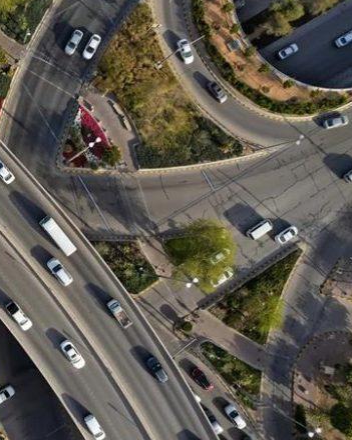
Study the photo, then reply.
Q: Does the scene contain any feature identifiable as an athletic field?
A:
No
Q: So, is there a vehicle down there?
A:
Yes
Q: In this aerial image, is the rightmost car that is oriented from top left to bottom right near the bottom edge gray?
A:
Yes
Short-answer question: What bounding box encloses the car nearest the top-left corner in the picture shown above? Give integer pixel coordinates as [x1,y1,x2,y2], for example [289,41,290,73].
[65,29,84,56]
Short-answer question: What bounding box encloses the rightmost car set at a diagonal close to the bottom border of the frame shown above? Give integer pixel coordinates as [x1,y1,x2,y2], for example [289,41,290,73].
[223,402,247,429]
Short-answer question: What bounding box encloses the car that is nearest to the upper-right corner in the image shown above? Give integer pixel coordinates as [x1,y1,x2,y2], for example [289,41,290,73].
[331,30,352,49]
